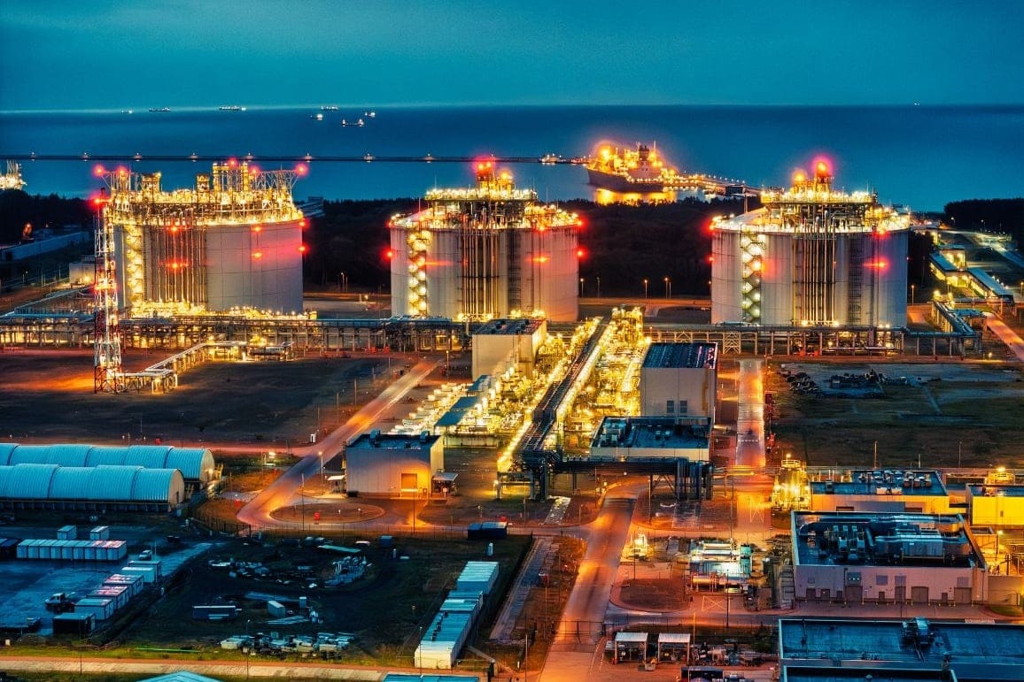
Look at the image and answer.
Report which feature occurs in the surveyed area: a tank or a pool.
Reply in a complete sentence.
This aerial view contains a tank.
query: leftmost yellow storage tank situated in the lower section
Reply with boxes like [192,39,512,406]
[772,464,811,512]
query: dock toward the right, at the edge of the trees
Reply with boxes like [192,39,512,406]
[679,172,890,204]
